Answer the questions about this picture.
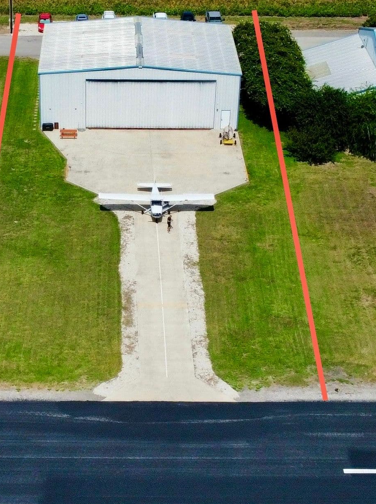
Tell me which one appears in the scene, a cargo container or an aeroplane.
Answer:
aeroplane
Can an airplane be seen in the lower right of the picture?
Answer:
No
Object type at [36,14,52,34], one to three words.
car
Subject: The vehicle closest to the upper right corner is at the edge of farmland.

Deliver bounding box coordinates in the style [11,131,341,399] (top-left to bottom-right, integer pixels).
[205,10,224,23]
